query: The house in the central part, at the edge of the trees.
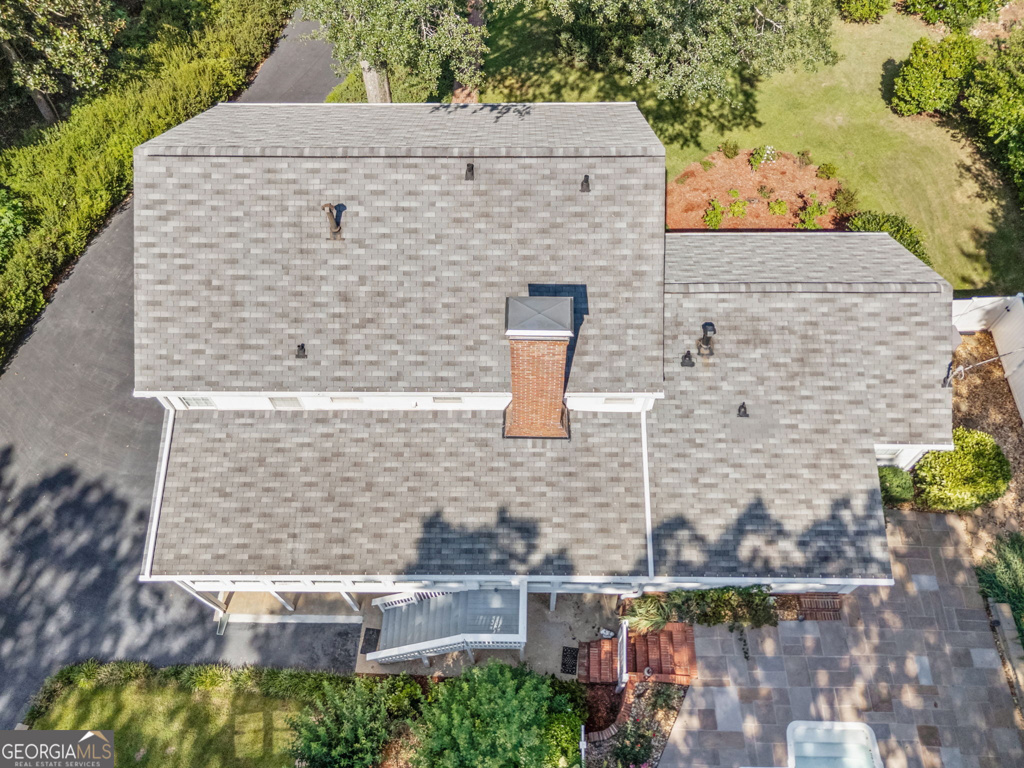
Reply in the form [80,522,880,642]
[132,101,964,620]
